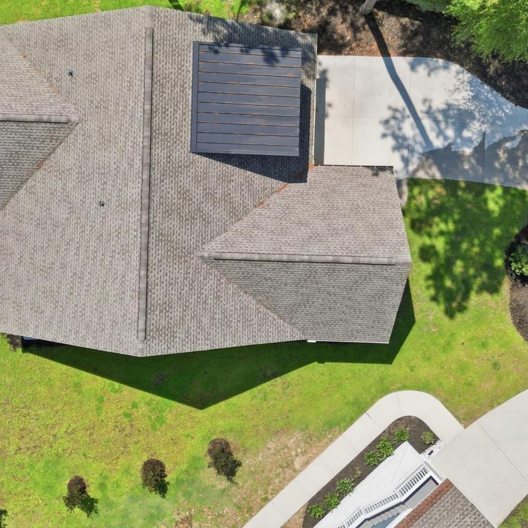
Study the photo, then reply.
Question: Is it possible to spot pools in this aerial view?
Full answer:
No, there appears to be no pool in this shot.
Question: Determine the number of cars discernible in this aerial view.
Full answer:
Not a single car can be seen.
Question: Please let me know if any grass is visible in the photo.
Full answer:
Yes, grass shows up in the scene.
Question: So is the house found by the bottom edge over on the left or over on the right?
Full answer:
The house found by the bottom edge appears in the right half of the scene.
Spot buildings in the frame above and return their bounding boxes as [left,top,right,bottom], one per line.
[0,5,411,357]
[314,441,490,528]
